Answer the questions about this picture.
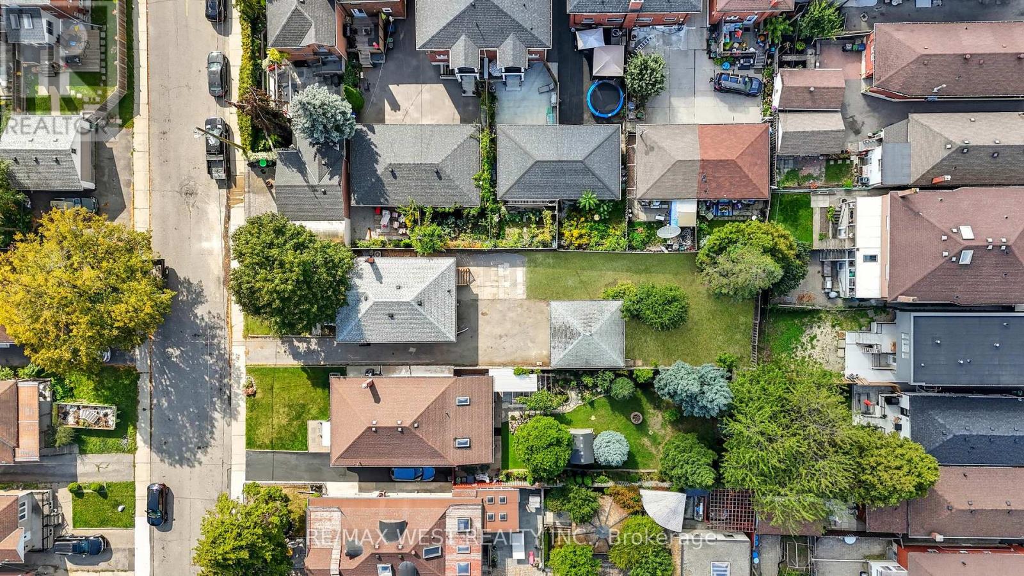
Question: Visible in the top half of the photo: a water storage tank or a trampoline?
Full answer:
You can see a trampoline in the top half of the photo.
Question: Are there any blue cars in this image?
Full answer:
Yes, the frame does contain a blue car.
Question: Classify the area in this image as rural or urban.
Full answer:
The area is urban.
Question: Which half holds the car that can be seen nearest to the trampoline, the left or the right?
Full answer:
You can find the car that can be seen nearest to the trampoline on the right side of the picture.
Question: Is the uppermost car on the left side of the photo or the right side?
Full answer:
You can find the uppermost car on the left side of the picture.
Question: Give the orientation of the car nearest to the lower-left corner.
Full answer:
The car nearest to the lower-left corner has been laid out from left to right relative to the frame.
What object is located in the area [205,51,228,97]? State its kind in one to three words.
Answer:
car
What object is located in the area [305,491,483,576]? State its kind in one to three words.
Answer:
house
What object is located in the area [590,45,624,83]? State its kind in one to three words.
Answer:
gazebo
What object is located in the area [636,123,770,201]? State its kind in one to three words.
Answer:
building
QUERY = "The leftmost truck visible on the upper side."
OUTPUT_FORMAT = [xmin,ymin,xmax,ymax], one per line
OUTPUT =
[45,193,99,215]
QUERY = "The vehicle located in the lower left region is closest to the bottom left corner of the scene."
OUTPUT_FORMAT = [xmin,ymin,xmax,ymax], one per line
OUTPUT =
[55,529,109,554]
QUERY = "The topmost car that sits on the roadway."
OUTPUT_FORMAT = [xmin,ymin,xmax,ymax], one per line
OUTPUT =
[202,0,225,21]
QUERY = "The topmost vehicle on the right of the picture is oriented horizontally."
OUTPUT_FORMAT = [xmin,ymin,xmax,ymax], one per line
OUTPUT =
[712,74,762,99]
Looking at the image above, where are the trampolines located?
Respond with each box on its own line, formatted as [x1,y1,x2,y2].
[587,78,624,118]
